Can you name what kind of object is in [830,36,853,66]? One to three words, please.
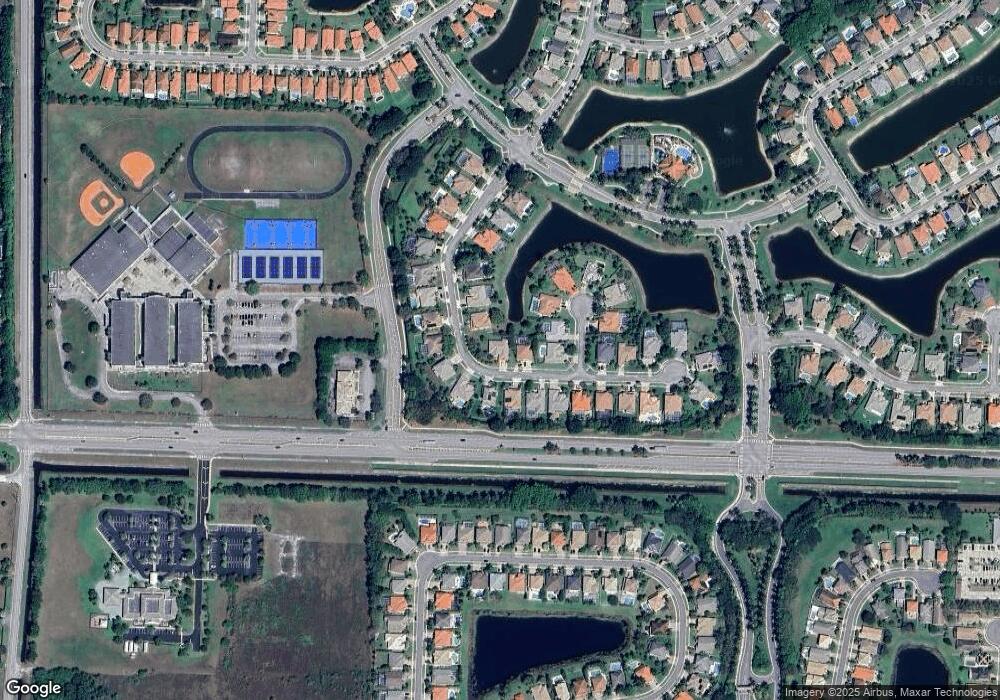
house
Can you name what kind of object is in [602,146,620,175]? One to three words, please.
basketball court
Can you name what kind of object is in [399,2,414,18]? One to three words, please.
swimming pool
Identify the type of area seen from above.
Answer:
residential area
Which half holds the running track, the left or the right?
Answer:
left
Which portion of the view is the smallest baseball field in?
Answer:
top left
